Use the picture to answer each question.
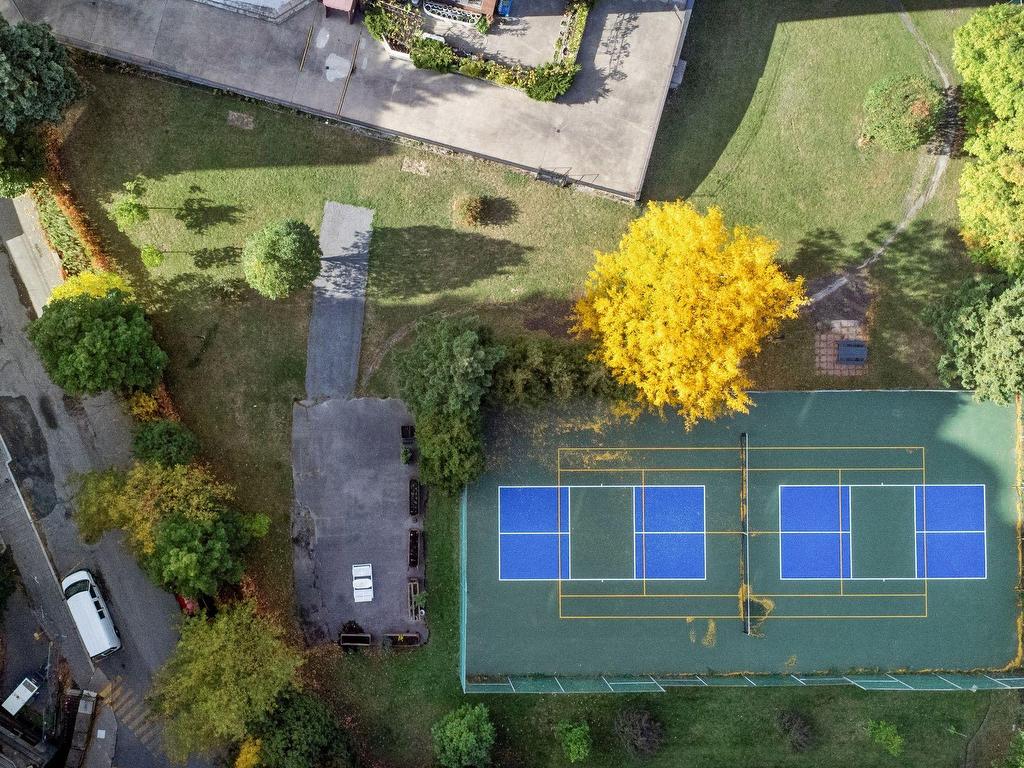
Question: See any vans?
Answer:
Yes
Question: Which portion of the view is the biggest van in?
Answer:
bottom left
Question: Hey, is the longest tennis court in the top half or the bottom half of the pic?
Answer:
bottom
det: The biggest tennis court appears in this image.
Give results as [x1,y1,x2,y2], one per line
[465,391,1018,678]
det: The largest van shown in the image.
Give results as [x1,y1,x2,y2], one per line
[62,570,120,659]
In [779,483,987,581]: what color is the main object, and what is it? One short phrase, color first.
blue sports court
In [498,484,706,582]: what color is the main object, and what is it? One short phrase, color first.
blue sports court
